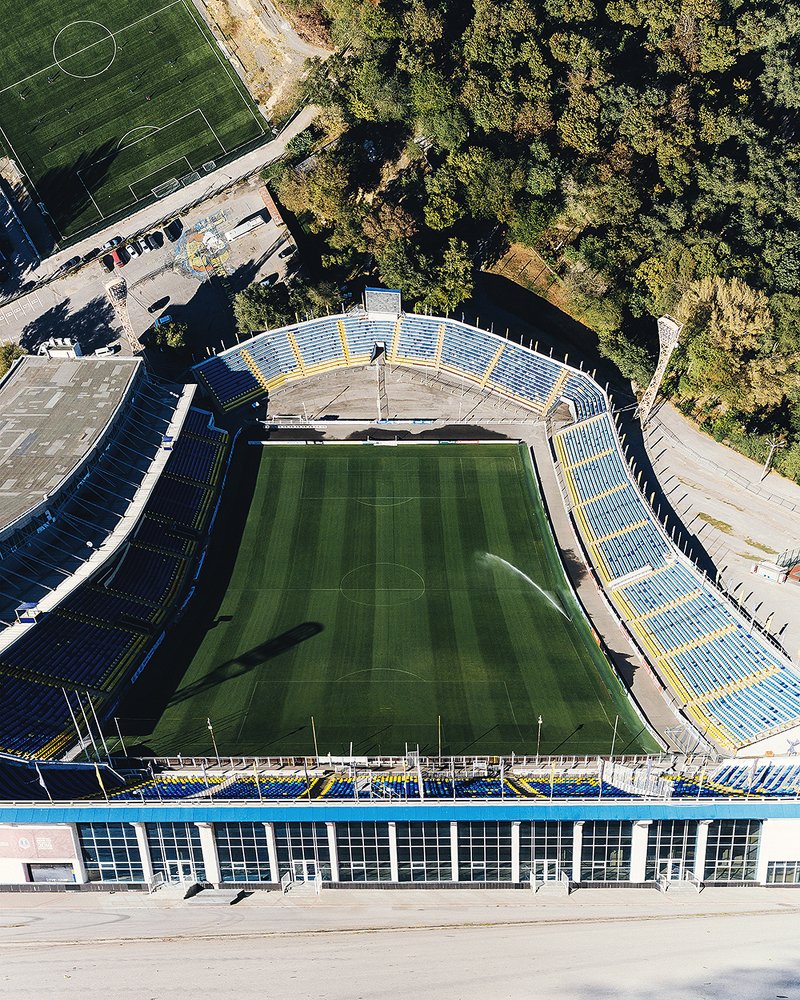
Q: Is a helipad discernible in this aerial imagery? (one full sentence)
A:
No, the scene contains no helipad.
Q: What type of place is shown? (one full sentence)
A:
The picture captures a sports ground.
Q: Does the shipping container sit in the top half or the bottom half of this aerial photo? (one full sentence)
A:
The shipping container is in the top half of the image.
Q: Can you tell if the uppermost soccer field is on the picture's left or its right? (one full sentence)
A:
The uppermost soccer field appears in the left half of the scene.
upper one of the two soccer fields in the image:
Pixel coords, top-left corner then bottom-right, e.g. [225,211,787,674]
[0,0,279,253]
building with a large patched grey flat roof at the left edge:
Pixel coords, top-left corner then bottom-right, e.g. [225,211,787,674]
[0,354,148,571]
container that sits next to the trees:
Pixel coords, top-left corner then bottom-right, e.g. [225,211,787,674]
[254,180,287,226]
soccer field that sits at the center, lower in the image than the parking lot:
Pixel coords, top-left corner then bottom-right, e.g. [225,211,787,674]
[97,449,661,755]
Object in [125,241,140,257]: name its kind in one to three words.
car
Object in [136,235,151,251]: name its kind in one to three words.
car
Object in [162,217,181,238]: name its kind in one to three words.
vehicle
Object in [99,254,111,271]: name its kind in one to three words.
vehicle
